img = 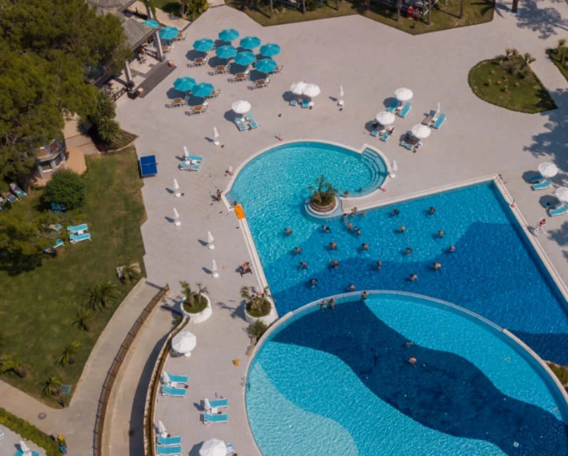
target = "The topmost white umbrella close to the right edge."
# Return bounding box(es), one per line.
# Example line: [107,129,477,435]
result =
[537,165,558,181]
